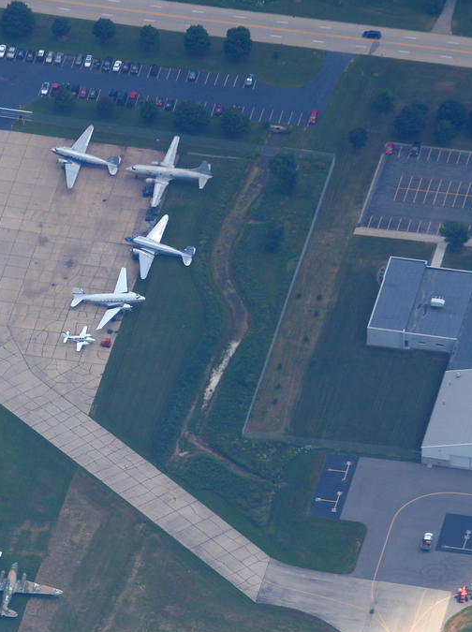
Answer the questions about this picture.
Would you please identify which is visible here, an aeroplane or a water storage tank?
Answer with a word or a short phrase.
aeroplane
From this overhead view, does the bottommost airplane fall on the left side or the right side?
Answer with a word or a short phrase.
left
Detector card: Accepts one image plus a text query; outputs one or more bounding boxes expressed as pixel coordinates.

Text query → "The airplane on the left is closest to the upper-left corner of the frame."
[52,126,120,187]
